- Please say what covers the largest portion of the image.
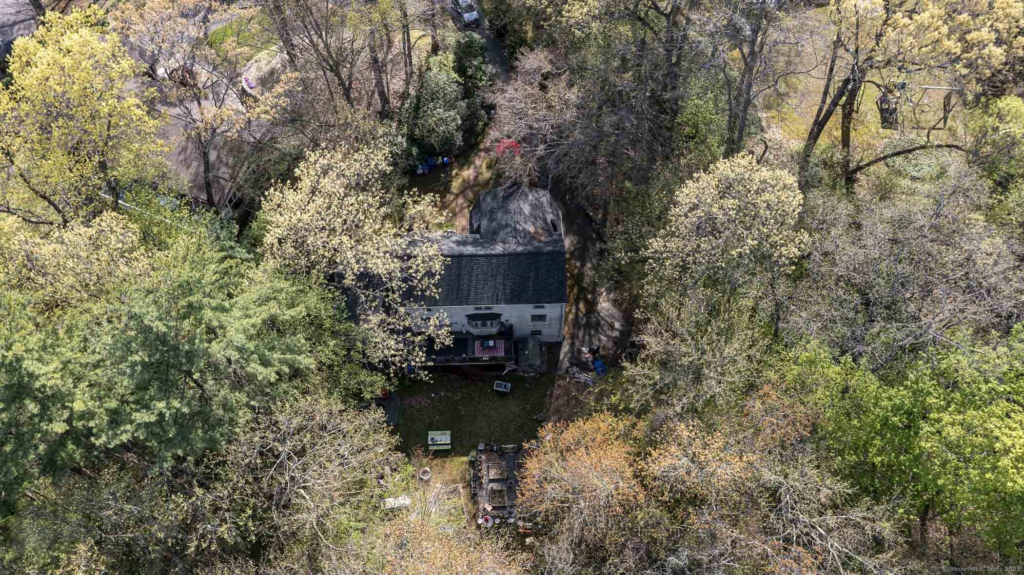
trees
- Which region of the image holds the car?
top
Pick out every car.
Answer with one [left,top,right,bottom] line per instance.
[457,0,482,26]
